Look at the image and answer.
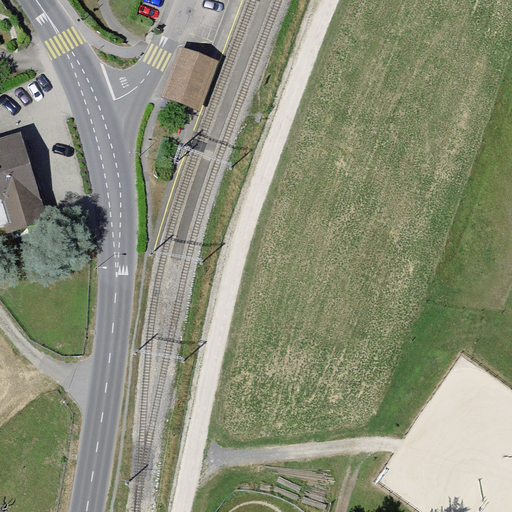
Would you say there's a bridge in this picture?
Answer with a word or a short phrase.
No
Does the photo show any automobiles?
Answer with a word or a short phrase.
Yes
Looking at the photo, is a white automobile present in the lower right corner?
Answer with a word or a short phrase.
No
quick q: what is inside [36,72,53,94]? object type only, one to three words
car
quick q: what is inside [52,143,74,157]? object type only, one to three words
car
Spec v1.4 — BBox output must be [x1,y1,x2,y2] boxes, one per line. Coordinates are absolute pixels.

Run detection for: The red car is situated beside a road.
[138,5,160,18]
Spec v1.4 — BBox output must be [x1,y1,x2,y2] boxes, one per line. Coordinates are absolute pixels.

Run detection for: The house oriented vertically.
[0,130,46,233]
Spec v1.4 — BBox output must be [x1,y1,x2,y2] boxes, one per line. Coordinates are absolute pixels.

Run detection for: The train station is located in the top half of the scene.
[162,46,219,109]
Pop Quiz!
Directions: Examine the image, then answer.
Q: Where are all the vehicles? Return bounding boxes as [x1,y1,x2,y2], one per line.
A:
[202,0,224,12]
[14,86,34,107]
[27,80,44,102]
[52,143,74,157]
[144,0,164,6]
[0,94,21,116]
[138,5,160,18]
[36,72,53,94]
